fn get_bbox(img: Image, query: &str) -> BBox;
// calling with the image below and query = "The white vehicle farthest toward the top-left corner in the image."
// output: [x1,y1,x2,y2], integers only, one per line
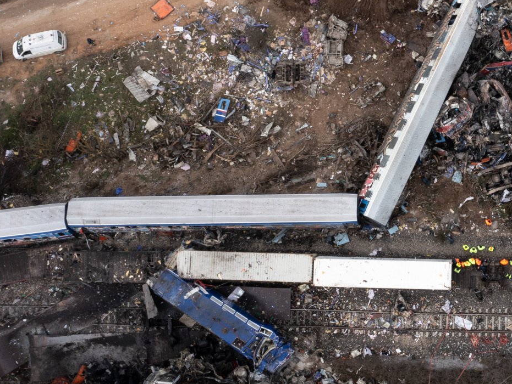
[16,32,72,58]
